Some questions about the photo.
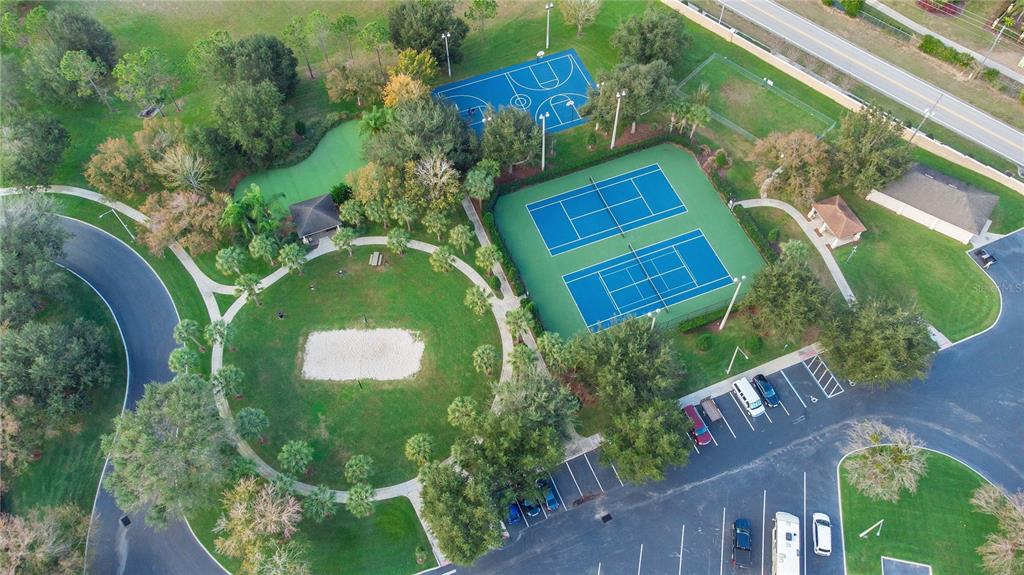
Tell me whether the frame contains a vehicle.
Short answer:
Yes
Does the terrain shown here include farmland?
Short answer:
No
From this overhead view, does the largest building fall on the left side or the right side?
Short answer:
right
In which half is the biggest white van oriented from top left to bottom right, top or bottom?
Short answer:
bottom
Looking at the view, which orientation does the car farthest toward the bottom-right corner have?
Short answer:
up and down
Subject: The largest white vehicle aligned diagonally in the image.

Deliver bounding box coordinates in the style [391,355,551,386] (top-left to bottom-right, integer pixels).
[732,375,765,418]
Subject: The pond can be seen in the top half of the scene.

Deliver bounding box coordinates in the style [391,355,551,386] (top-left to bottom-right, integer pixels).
[235,121,370,208]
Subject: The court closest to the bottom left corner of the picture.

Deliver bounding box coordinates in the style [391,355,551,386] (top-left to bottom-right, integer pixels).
[301,315,424,389]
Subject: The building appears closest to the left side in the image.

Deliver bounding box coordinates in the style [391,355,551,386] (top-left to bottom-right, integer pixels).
[288,192,343,247]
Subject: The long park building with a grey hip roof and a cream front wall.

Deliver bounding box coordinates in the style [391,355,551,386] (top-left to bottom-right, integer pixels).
[863,160,996,248]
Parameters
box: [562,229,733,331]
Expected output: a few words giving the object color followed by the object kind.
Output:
blue tennis court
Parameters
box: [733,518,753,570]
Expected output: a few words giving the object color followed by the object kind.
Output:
blue vehicle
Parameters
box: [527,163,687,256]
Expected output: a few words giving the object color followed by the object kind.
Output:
blue tennis court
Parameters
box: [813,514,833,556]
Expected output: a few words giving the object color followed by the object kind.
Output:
white car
